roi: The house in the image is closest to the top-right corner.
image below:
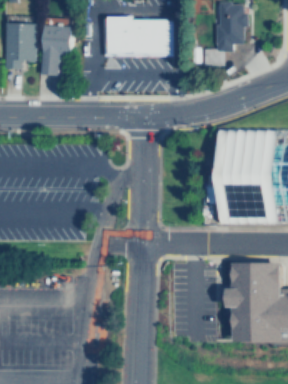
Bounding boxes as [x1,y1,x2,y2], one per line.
[218,1,251,52]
